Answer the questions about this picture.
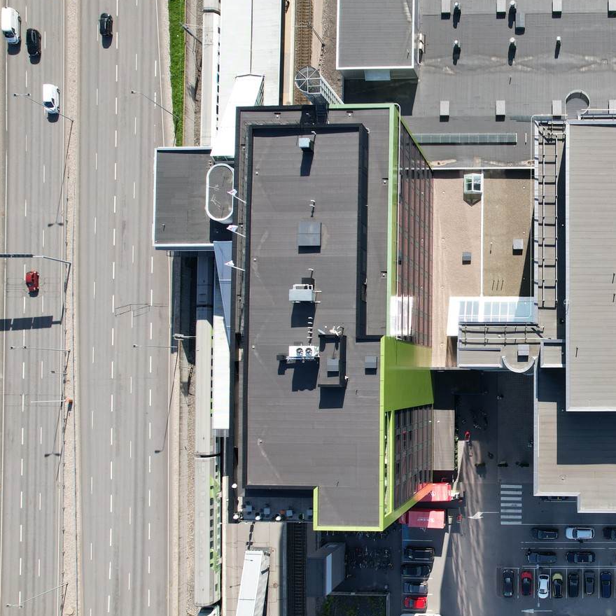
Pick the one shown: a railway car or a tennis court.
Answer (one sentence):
I can see a railway car in this picture.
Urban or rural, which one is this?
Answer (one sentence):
It looks urban.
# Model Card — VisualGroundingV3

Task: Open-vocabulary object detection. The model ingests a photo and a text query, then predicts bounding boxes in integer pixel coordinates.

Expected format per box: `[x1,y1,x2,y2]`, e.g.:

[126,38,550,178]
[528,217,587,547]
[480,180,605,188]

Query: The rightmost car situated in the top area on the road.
[99,12,114,39]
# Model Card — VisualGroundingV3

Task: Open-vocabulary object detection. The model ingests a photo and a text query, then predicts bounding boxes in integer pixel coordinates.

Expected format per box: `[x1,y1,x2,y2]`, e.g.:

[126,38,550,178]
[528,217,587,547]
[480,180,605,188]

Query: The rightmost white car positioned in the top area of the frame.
[43,85,60,112]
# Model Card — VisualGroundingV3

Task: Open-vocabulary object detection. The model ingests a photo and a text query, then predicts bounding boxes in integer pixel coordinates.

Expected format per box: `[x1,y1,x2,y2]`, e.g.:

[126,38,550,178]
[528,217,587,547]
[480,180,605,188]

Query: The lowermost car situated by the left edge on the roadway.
[25,270,41,294]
